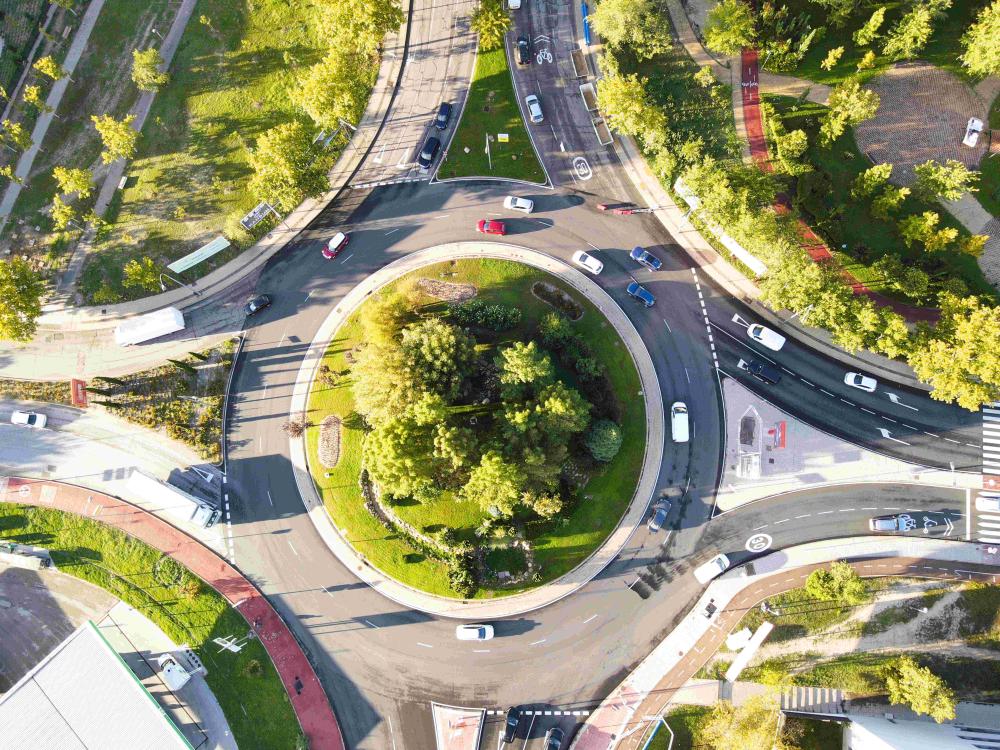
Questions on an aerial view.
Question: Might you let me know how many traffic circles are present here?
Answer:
1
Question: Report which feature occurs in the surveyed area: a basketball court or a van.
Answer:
van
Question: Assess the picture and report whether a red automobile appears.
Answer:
Yes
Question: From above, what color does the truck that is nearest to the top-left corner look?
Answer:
white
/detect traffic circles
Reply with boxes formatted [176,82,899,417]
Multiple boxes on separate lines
[222,179,725,713]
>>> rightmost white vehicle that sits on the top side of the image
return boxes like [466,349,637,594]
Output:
[956,117,985,150]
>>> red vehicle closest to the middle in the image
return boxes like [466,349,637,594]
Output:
[475,220,508,237]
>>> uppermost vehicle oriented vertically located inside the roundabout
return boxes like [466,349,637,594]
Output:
[669,400,689,442]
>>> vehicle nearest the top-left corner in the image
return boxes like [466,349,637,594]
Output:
[123,310,192,347]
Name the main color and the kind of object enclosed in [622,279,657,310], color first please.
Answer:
blue car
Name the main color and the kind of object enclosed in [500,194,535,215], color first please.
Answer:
white car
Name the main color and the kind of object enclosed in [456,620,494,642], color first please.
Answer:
white car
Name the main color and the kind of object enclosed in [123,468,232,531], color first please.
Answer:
white truck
